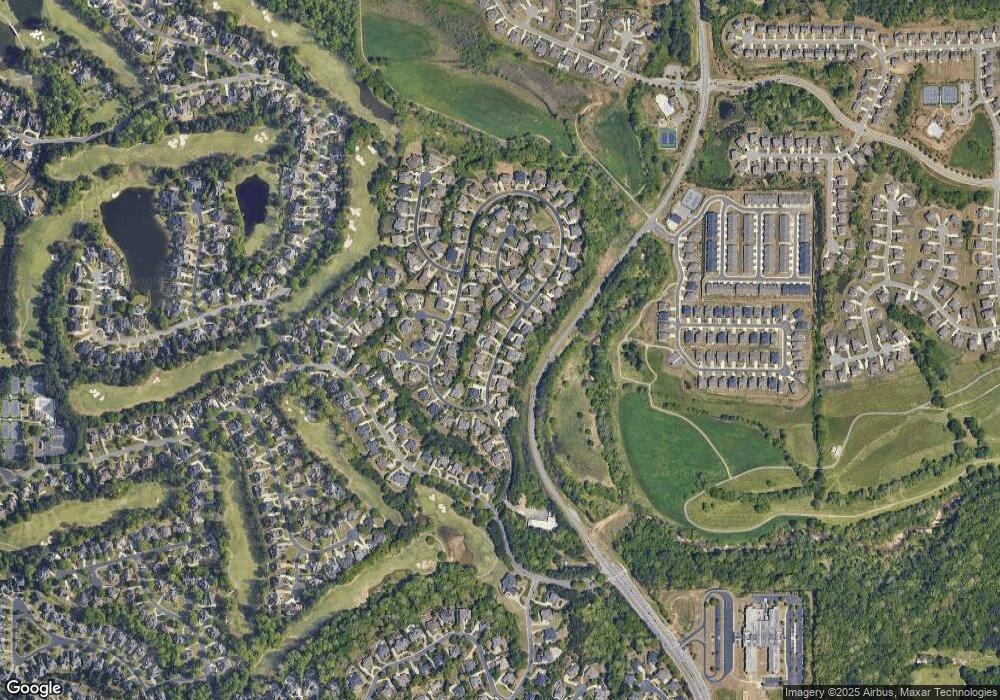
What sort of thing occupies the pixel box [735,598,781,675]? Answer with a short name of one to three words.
building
